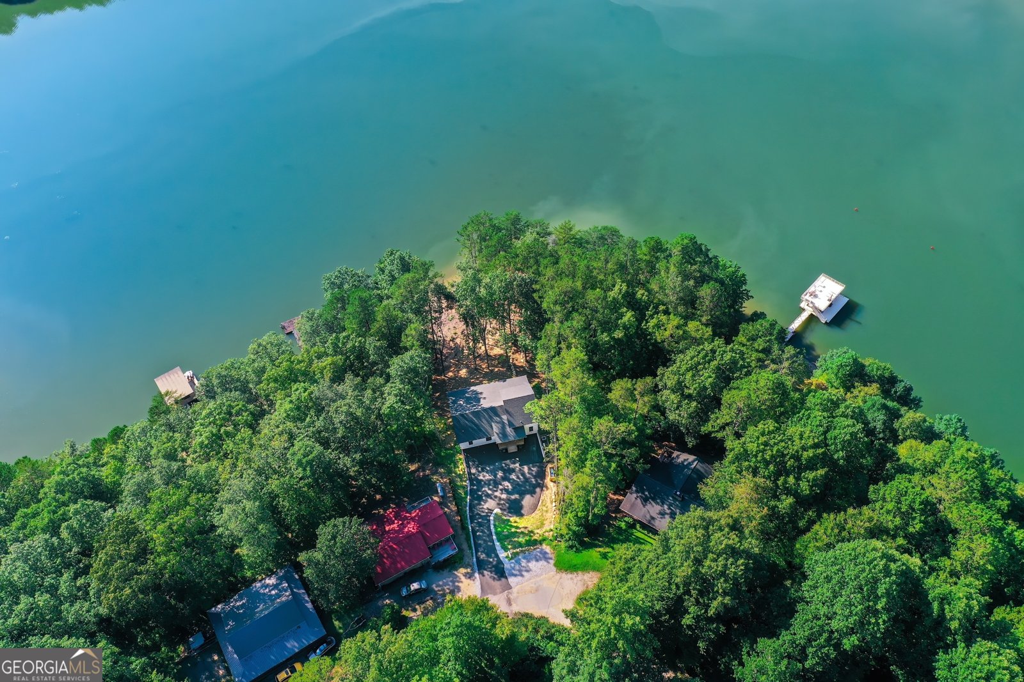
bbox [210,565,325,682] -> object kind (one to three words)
house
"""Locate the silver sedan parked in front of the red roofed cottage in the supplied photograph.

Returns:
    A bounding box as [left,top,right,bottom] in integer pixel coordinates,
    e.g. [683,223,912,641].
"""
[400,580,428,596]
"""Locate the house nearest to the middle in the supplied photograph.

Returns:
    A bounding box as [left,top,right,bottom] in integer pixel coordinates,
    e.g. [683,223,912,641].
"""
[446,374,538,455]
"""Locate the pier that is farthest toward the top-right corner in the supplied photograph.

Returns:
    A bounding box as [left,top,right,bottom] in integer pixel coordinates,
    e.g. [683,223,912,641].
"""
[793,271,853,327]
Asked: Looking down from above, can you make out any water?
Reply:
Yes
